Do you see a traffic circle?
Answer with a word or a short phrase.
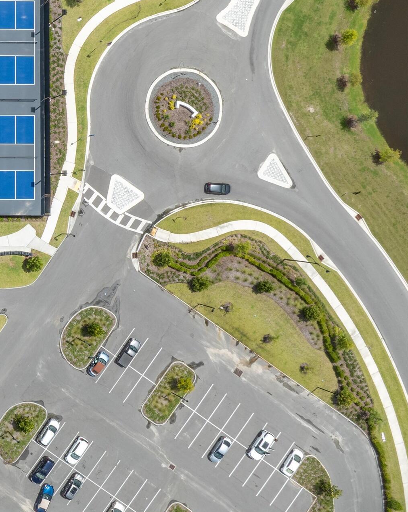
Yes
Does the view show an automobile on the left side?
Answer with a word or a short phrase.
Yes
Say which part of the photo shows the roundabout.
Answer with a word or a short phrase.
top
